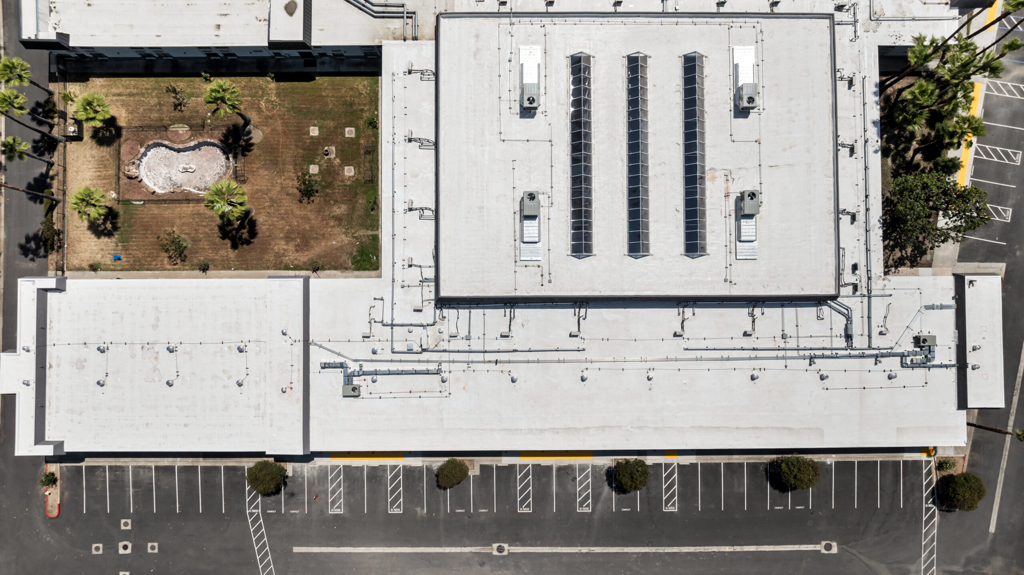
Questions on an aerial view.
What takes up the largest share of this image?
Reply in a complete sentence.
Most of the picture is covered by buildings.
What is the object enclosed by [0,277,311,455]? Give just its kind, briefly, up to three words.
building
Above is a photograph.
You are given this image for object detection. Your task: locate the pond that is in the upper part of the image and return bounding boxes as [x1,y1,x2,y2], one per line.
[135,138,233,196]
